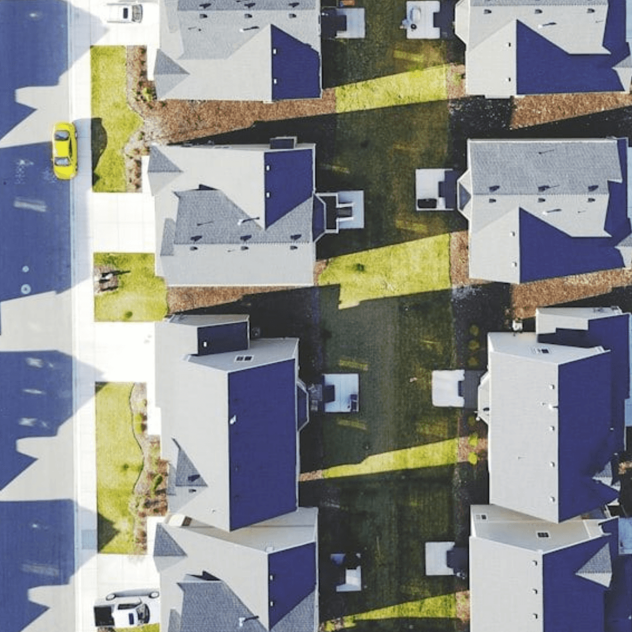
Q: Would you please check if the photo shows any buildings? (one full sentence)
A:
Yes, a building can be made out from above.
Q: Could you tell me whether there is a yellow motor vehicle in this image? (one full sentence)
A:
Yes, a yellow motor vehicle appears in the view.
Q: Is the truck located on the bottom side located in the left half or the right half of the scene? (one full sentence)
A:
The truck located on the bottom side sits on the left side.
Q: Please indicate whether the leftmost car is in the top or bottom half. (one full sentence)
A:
The top half of the photo is where the leftmost car is.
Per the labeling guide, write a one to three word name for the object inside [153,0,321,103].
house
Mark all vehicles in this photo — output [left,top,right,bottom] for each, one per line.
[85,594,158,632]
[94,0,157,29]
[48,121,77,179]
